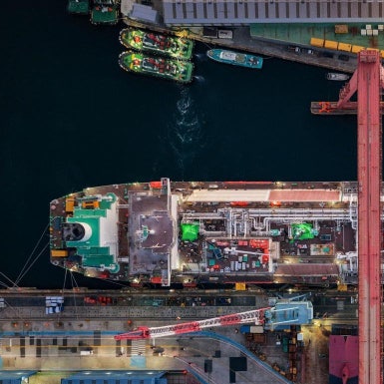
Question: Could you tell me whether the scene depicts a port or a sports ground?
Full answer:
The picture captures a port.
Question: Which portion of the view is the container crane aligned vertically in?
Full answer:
The container crane aligned vertically sits in the right section of the image.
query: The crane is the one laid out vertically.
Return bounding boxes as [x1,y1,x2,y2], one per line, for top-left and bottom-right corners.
[318,49,384,384]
